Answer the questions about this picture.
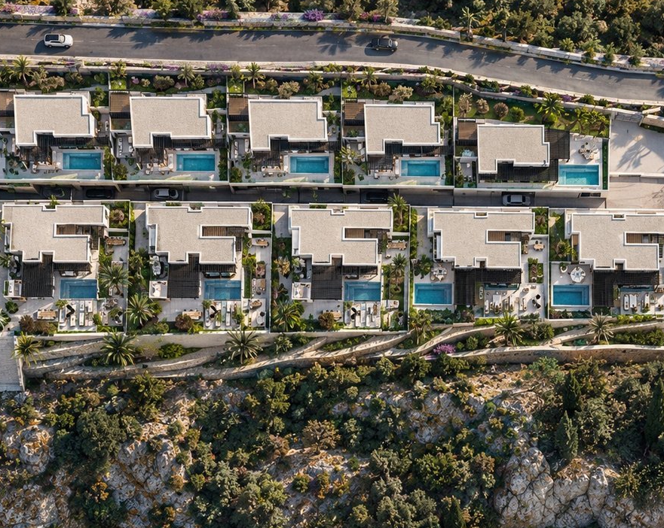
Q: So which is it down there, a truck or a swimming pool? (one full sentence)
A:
The one in the frame is a swimming pool.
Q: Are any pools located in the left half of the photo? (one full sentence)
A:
Yes, the scene does show a pool in the left half of the photo.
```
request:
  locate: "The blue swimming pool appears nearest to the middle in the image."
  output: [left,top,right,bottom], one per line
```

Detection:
[347,280,387,303]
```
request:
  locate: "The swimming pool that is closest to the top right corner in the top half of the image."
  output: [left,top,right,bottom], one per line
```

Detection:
[556,163,602,186]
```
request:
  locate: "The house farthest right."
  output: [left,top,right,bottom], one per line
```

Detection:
[567,212,664,313]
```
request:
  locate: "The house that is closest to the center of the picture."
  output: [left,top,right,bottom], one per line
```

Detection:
[287,205,397,307]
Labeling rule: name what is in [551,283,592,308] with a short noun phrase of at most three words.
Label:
swimming pool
